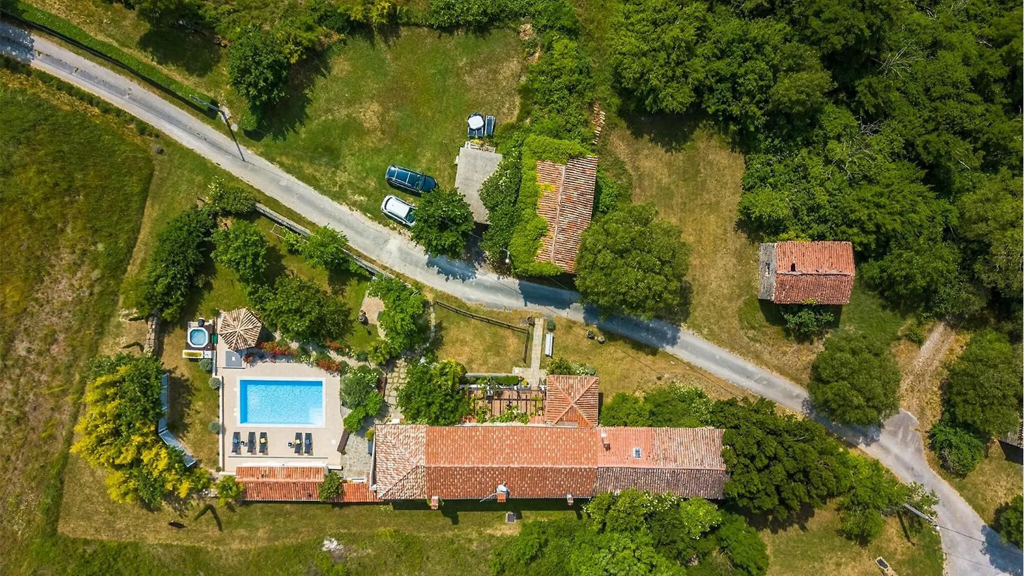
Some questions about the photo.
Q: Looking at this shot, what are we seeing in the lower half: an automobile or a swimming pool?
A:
swimming pool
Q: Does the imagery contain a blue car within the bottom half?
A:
No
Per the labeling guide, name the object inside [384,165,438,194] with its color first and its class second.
blue car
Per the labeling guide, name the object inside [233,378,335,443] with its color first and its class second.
blue swimming pool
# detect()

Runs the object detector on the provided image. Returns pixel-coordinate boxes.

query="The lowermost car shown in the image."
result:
[380,197,422,230]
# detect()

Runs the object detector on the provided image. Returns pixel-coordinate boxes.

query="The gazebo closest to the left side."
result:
[218,307,263,351]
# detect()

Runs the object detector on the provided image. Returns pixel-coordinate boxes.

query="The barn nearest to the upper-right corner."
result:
[760,241,857,306]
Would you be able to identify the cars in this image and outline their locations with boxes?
[384,165,438,194]
[380,197,422,230]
